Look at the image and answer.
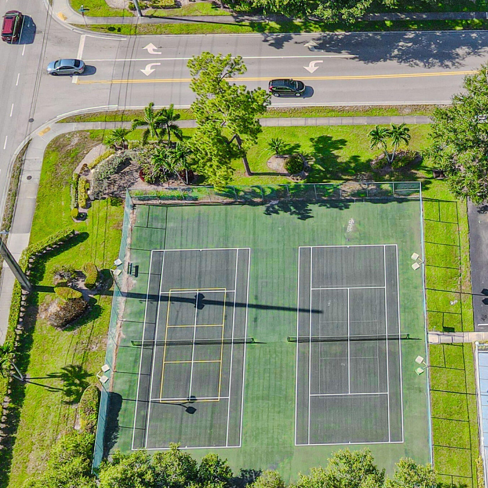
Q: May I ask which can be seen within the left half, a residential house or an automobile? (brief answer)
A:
automobile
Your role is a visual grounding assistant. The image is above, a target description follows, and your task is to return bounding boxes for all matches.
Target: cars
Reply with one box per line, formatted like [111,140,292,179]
[1,14,21,45]
[47,58,86,77]
[269,77,307,99]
